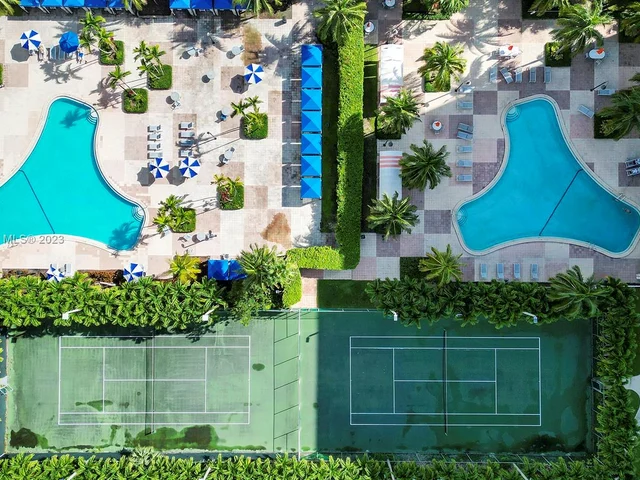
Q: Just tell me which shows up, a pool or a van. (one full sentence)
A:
There is a pool in the scene.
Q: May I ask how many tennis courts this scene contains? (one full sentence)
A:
The picture shows 2 tennis courts.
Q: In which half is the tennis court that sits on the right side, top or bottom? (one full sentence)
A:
You can find the tennis court that sits on the right side in the bottom half.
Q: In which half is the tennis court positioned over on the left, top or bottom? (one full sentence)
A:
You can find the tennis court positioned over on the left in the bottom half.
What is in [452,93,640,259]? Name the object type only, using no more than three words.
swimming pool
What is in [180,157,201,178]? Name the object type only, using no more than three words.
umbrella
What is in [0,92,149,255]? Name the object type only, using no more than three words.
swimming pool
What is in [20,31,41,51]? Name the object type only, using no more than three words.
umbrella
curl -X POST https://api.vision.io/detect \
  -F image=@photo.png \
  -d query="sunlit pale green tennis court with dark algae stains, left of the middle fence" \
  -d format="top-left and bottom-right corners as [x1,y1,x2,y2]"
[6,309,299,453]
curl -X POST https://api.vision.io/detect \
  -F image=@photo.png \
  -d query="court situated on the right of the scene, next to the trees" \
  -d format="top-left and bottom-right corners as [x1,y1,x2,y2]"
[299,309,592,453]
